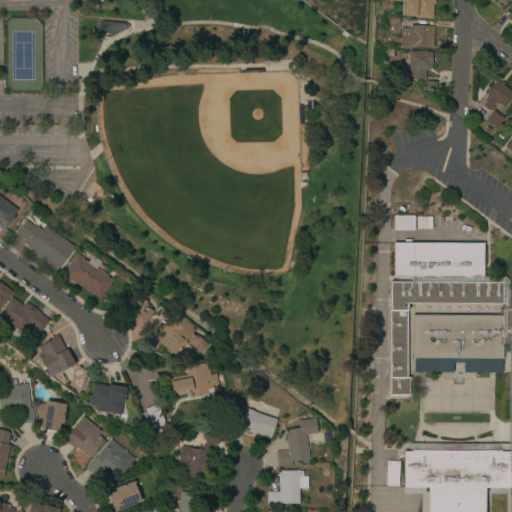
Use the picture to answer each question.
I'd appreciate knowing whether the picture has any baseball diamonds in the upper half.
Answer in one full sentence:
Yes, a baseball diamond shows up in the upper half.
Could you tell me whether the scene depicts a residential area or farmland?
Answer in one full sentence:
This looks like a residential area.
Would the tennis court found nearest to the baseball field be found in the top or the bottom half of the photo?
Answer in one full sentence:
It is in the top half that the tennis court found nearest to the baseball field appears.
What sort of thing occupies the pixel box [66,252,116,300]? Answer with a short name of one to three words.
house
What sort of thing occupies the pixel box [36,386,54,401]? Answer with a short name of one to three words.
swimming pool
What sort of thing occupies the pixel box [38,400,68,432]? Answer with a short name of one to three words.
house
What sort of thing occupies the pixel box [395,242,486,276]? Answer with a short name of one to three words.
building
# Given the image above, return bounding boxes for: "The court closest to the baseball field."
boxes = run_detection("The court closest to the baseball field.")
[8,19,43,90]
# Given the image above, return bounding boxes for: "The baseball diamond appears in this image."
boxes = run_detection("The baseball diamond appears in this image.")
[98,72,302,274]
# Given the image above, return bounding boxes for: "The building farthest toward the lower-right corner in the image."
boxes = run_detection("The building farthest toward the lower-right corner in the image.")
[406,450,512,512]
